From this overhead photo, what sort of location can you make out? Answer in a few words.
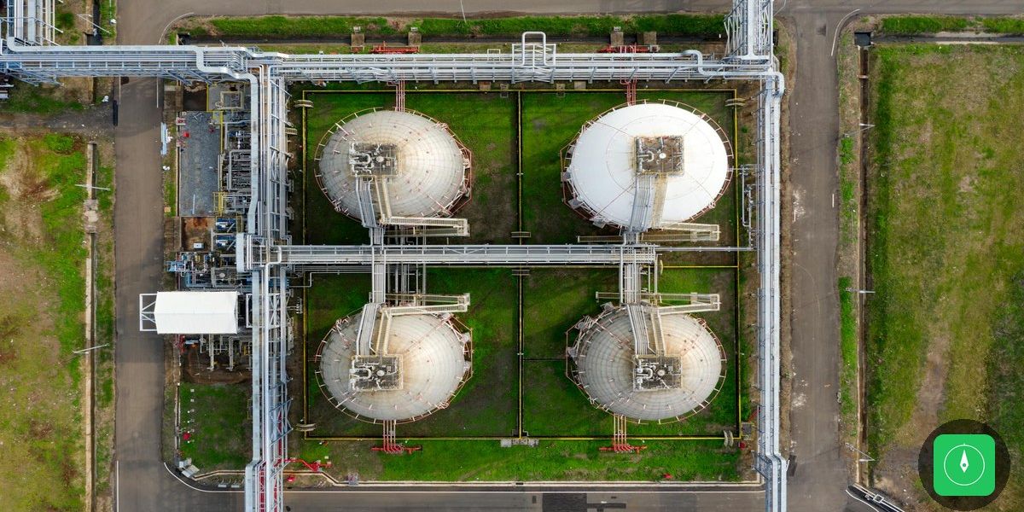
industrial area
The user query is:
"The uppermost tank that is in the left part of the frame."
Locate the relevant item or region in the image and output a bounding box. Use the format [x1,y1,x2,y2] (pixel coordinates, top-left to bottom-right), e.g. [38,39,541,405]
[313,105,471,225]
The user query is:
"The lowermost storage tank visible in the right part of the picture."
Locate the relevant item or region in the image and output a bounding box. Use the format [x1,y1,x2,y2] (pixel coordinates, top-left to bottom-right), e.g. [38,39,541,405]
[565,309,729,426]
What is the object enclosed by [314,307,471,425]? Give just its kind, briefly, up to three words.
storage tank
